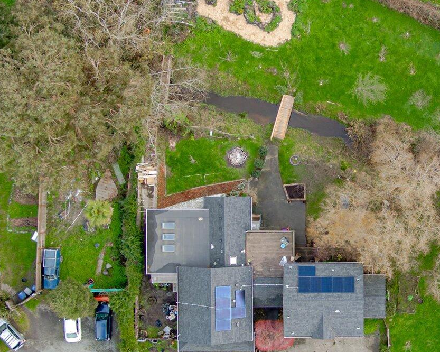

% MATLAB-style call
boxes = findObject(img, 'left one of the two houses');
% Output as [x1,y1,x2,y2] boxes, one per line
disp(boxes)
[146,196,283,352]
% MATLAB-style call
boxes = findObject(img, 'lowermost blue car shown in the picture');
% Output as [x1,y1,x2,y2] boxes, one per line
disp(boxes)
[92,301,114,343]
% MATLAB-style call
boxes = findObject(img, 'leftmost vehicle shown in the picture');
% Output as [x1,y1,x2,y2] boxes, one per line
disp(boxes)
[0,314,27,352]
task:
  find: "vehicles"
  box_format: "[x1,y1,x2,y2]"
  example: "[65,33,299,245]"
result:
[92,301,114,343]
[38,248,61,290]
[64,315,83,343]
[0,314,27,352]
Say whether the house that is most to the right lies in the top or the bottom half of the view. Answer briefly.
bottom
